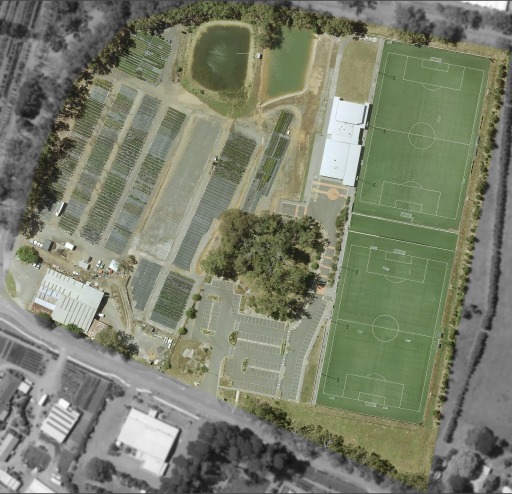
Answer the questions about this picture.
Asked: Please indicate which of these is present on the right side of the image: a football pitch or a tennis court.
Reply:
football pitch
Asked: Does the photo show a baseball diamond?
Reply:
No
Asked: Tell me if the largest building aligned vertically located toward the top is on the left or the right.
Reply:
right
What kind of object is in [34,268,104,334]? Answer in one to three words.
shed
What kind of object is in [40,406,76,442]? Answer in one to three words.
greenhouse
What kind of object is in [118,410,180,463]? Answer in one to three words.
building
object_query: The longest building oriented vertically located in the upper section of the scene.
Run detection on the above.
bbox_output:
[320,96,370,186]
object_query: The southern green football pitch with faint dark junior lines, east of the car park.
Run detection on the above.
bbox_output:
[316,232,454,424]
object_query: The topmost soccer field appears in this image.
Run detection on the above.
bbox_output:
[352,39,491,232]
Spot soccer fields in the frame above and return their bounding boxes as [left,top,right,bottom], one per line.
[316,232,454,424]
[352,39,491,232]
